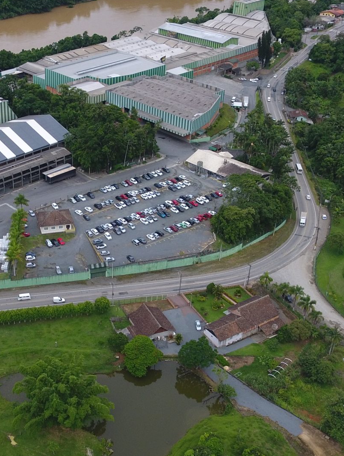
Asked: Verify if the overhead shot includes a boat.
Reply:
No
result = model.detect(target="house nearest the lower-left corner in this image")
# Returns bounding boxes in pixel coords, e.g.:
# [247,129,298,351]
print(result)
[125,303,178,347]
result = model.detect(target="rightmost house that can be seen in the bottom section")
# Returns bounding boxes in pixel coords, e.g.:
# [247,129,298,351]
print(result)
[200,291,287,354]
